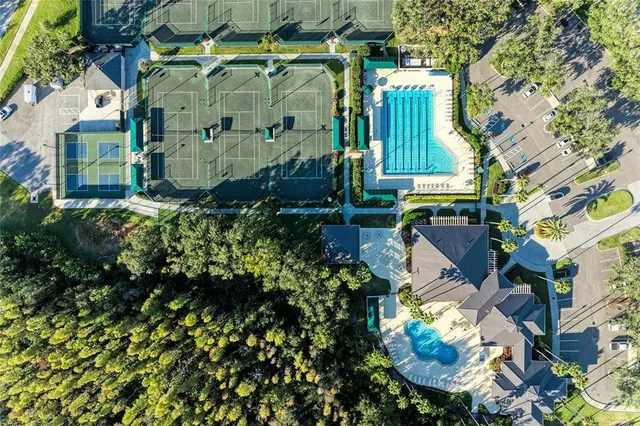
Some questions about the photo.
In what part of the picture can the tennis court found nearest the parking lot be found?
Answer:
top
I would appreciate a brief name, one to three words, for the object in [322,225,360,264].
building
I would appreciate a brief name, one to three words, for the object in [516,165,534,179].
vehicle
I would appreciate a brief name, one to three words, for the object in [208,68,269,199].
tennis court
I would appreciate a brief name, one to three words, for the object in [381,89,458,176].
swimming pool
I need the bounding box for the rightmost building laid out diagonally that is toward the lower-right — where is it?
[411,225,568,426]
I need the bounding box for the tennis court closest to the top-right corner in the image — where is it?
[332,0,395,42]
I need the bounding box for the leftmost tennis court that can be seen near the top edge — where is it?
[84,0,144,42]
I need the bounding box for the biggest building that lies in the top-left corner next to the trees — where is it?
[85,52,129,92]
